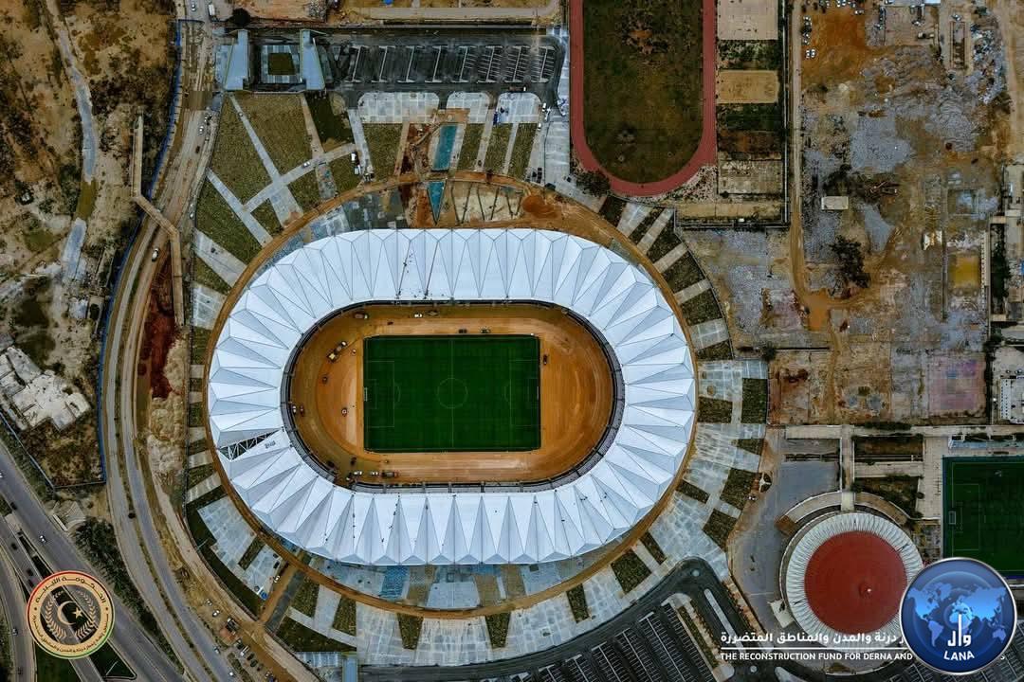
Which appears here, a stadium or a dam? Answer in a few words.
stadium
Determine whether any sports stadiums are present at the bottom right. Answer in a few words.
Yes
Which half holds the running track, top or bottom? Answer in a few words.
top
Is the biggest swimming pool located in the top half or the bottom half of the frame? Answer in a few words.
top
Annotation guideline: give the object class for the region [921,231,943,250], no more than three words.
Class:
building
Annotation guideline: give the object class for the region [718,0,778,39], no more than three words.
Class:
sports court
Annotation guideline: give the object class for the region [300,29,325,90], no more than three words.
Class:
building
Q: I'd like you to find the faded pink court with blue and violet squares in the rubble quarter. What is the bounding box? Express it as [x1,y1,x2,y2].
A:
[929,354,985,410]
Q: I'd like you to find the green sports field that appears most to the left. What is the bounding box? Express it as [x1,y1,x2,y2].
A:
[363,335,541,453]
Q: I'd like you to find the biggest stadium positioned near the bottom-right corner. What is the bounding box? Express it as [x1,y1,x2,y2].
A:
[760,503,925,656]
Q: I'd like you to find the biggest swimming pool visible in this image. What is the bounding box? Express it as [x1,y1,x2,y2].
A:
[432,125,457,170]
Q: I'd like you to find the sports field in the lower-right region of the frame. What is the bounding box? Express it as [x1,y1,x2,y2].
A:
[942,455,1024,579]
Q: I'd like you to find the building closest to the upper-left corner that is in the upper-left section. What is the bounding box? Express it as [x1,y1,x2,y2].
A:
[224,29,251,90]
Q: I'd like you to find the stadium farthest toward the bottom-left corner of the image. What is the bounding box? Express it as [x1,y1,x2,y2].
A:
[208,228,694,566]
